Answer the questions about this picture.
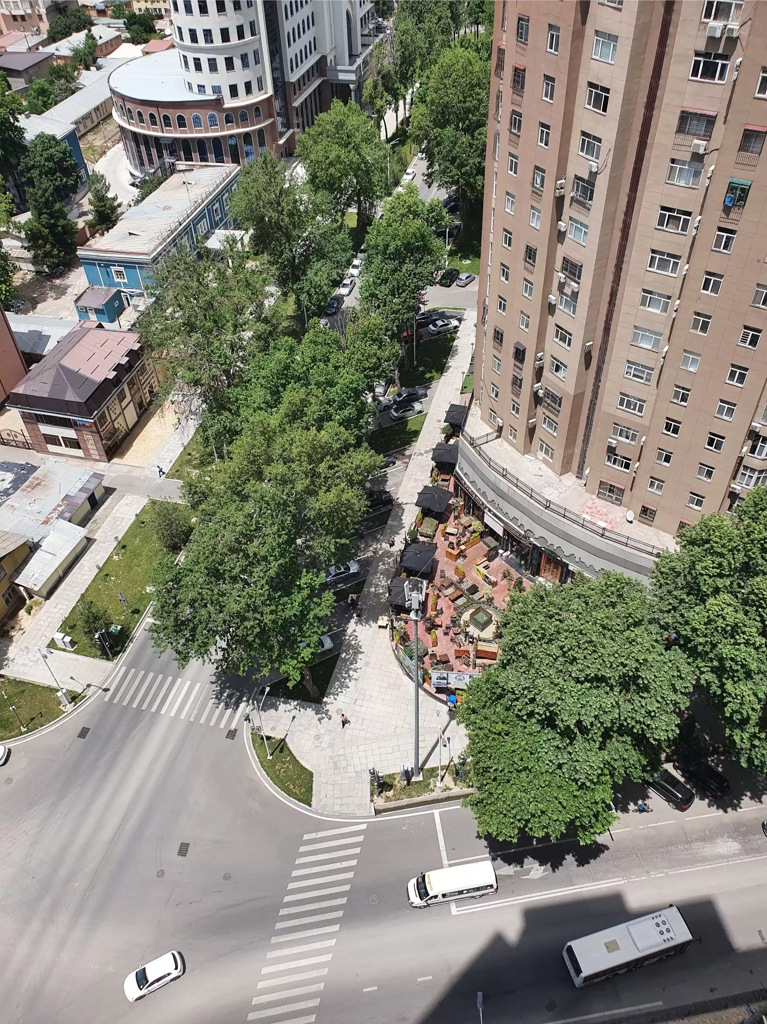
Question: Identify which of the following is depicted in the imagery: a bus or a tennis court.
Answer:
bus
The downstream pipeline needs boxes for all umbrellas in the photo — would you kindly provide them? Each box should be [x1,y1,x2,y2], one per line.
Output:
[396,541,438,573]
[441,405,467,431]
[383,577,425,608]
[428,443,461,469]
[413,486,453,513]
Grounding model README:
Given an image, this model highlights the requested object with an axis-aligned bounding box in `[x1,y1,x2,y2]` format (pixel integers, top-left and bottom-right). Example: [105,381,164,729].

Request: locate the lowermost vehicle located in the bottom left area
[125,946,183,994]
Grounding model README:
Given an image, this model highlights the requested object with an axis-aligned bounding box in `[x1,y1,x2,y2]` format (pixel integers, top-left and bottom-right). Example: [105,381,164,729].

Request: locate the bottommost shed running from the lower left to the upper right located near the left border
[13,520,90,602]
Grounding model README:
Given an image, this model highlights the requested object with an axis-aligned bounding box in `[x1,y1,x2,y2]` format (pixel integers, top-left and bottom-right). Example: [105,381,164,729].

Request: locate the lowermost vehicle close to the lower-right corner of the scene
[560,903,704,989]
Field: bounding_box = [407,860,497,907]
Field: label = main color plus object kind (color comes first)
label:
white vehicle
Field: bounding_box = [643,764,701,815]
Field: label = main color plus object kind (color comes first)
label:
black car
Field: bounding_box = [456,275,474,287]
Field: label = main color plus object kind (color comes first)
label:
gray vehicle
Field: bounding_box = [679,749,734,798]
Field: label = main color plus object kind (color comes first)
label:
black car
